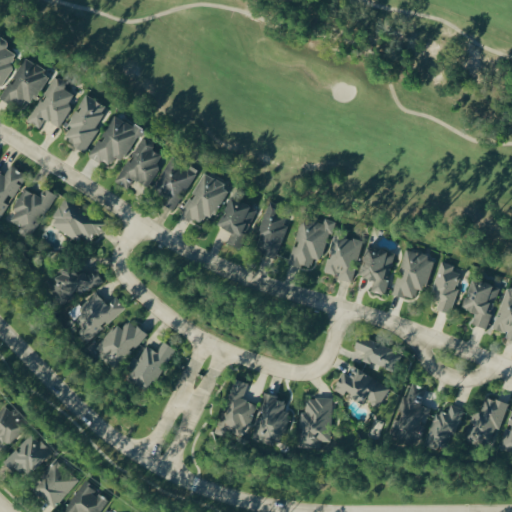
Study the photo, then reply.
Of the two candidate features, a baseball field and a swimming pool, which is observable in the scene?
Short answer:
swimming pool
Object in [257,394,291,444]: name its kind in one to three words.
house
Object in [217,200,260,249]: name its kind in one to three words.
house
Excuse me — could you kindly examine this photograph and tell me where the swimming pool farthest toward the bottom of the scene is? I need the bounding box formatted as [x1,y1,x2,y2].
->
[347,398,371,424]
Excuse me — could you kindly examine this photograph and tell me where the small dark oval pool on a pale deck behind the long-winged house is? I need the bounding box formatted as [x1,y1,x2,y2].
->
[42,226,65,247]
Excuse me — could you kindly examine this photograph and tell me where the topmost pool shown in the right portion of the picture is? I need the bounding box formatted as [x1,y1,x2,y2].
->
[371,230,402,254]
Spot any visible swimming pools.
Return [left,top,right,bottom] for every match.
[347,398,371,424]
[42,226,65,247]
[460,272,470,297]
[371,230,402,254]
